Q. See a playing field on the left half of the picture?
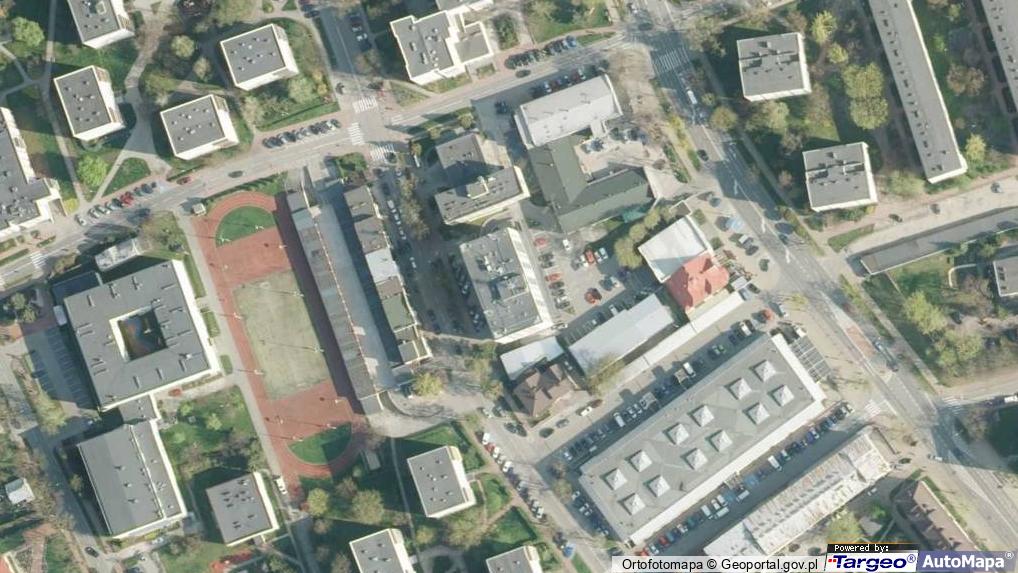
Yes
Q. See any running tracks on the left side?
Yes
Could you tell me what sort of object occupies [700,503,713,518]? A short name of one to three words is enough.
vehicle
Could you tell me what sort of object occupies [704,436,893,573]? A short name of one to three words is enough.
building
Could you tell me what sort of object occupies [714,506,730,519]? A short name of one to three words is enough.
vehicle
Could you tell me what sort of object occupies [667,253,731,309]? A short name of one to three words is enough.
house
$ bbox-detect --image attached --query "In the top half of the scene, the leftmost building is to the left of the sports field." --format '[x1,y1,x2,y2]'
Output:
[0,106,63,239]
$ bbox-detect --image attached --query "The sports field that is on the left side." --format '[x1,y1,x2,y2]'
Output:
[194,190,383,480]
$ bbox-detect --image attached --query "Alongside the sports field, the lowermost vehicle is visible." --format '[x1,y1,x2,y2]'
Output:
[274,475,288,495]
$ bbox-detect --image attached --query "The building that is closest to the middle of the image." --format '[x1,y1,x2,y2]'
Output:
[459,229,551,341]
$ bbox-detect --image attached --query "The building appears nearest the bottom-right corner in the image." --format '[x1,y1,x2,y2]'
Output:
[898,481,998,573]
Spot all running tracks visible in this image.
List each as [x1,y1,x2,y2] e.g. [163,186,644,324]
[194,190,383,480]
